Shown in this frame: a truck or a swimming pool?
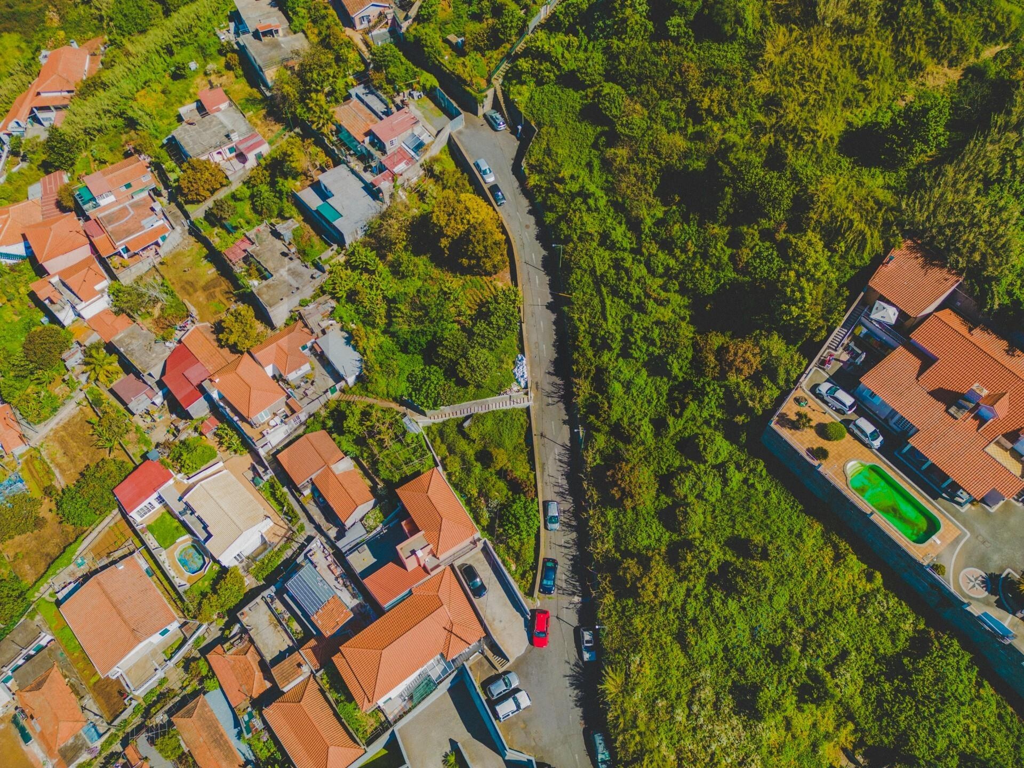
swimming pool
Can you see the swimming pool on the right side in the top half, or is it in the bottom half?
bottom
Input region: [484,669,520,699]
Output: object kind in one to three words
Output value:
car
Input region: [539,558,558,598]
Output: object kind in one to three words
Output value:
car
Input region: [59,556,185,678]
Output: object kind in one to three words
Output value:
house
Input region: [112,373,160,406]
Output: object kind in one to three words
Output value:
shed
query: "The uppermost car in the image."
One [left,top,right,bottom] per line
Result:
[486,108,508,134]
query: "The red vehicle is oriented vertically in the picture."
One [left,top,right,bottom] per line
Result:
[530,610,549,651]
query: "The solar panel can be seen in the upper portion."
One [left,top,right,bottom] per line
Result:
[401,133,425,156]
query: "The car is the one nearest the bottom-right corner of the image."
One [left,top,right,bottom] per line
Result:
[846,416,885,450]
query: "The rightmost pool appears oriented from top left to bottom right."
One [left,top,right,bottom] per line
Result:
[843,456,946,548]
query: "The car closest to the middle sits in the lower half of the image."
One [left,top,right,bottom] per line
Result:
[545,499,562,536]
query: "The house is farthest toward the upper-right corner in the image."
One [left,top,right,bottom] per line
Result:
[857,238,963,333]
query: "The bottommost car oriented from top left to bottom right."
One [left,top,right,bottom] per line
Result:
[457,563,487,600]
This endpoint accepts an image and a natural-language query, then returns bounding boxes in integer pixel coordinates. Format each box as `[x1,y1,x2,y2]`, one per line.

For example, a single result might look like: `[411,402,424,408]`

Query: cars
[590,730,609,768]
[484,669,520,699]
[457,563,487,600]
[494,694,532,726]
[475,157,498,186]
[539,558,558,598]
[846,416,885,450]
[487,182,509,209]
[545,499,562,536]
[579,627,597,668]
[486,108,508,134]
[814,382,858,416]
[530,610,549,651]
